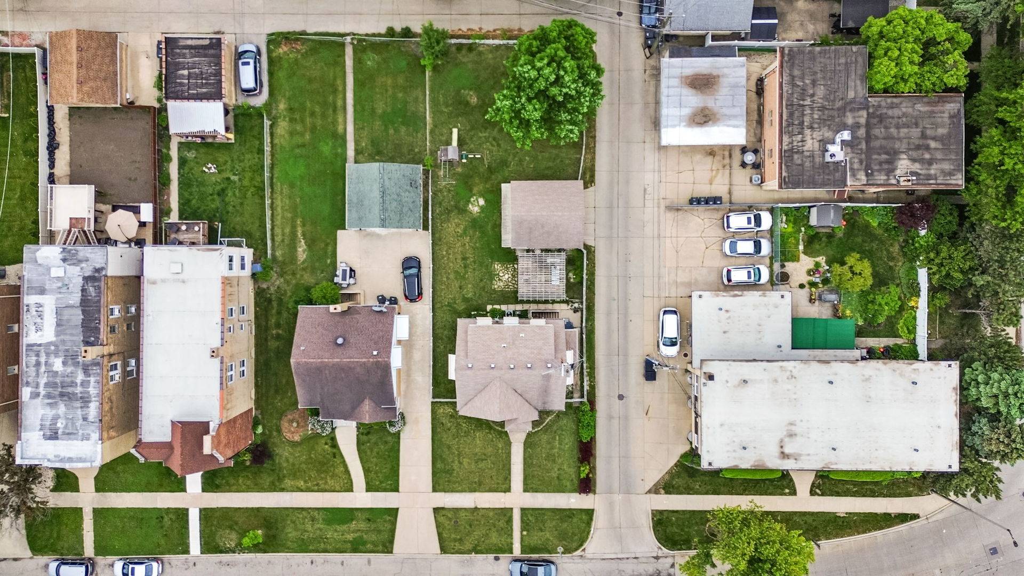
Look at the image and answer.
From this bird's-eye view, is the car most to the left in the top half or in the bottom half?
bottom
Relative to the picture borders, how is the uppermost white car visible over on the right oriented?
from side to side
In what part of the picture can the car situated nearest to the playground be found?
center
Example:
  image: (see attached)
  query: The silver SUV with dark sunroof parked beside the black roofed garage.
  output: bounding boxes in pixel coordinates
[238,47,264,97]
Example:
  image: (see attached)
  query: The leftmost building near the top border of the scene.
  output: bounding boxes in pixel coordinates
[48,27,131,110]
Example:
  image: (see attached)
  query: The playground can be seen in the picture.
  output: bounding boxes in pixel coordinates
[438,128,482,183]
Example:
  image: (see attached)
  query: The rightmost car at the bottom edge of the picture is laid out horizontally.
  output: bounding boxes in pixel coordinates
[509,556,555,576]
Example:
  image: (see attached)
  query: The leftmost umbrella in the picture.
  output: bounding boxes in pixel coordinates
[107,209,139,247]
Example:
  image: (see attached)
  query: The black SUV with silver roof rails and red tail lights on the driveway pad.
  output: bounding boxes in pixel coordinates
[401,257,423,302]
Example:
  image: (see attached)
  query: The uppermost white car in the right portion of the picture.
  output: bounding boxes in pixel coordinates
[723,209,770,233]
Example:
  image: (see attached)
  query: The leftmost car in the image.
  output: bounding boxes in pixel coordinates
[53,554,100,576]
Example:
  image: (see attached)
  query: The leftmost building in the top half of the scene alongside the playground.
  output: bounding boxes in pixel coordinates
[346,161,423,232]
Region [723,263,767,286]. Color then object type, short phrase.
white car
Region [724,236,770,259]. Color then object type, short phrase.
white car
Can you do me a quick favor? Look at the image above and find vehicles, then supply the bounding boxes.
[657,308,681,354]
[638,0,660,33]
[53,554,100,576]
[401,257,423,302]
[724,236,770,259]
[723,263,767,286]
[509,556,555,576]
[723,209,770,233]
[117,555,165,576]
[238,47,264,97]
